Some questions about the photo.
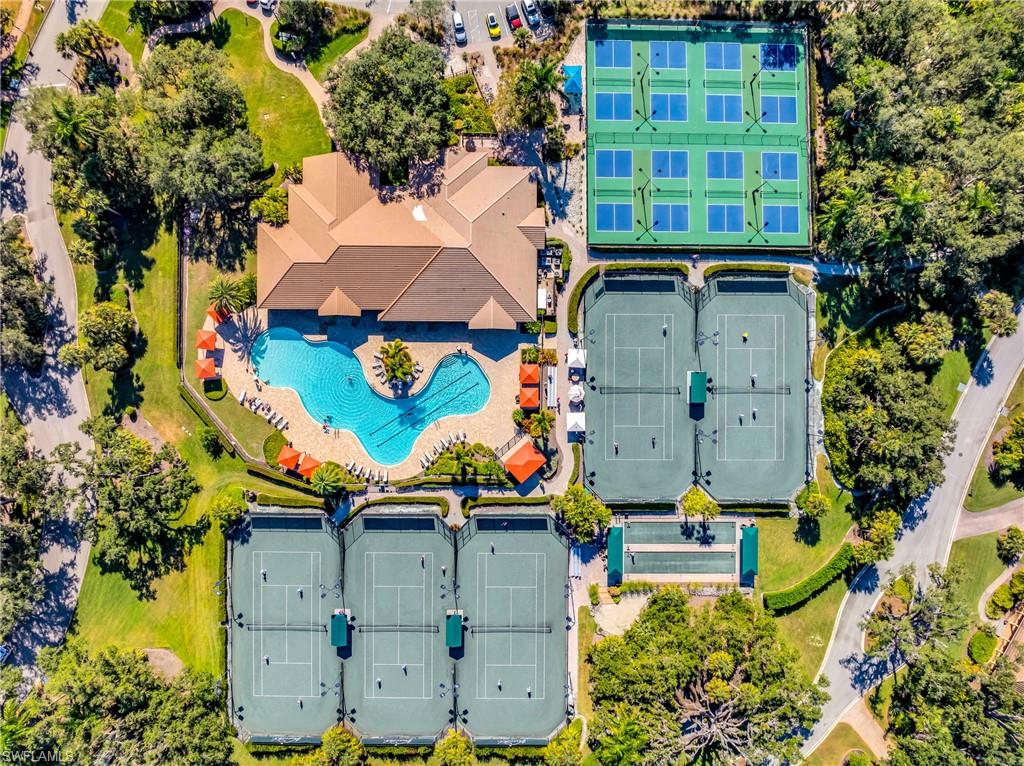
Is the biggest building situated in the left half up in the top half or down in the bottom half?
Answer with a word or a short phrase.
top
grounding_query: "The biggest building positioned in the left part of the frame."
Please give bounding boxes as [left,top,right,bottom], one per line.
[256,136,547,330]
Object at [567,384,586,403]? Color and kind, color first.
white umbrella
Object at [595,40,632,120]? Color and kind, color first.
blue sports court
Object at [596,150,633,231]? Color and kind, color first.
blue sports court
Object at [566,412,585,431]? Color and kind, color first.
white tent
